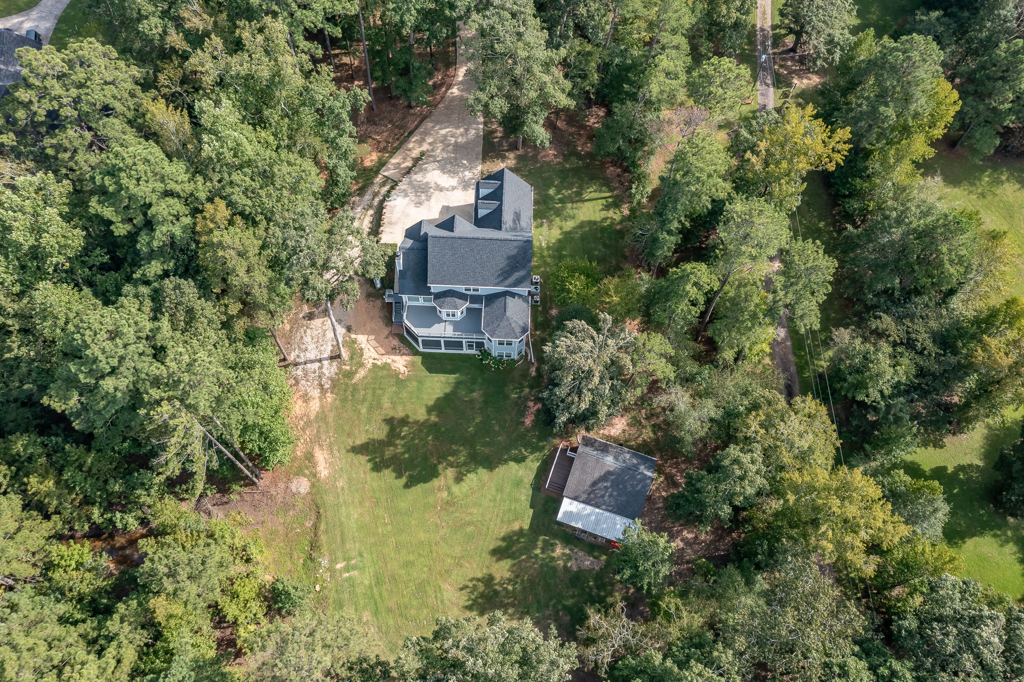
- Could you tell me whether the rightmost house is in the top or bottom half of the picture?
bottom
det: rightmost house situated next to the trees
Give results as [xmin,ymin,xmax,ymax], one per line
[545,433,657,548]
